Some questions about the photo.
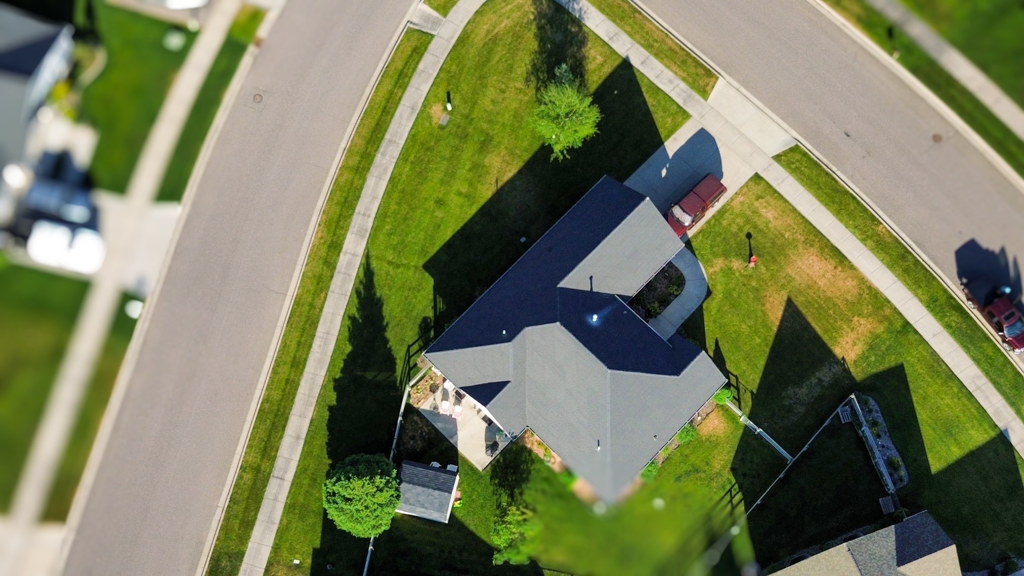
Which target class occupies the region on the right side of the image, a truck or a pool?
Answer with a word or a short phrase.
truck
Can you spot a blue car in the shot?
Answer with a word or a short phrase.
Yes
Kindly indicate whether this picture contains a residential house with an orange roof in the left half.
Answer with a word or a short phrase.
No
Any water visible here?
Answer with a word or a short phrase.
No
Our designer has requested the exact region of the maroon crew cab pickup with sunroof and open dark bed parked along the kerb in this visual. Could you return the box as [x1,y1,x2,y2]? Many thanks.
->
[960,278,1024,359]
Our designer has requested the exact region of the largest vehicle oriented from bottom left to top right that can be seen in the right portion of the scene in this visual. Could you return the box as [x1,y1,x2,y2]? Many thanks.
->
[664,174,724,236]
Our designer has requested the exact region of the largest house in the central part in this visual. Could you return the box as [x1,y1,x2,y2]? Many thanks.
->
[422,175,728,509]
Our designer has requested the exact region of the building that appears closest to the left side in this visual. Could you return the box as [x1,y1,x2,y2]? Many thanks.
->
[0,0,74,161]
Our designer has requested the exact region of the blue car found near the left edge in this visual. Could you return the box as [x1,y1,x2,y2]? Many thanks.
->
[24,181,103,224]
